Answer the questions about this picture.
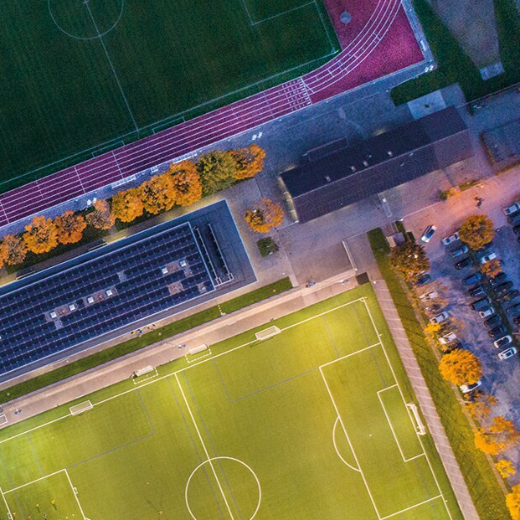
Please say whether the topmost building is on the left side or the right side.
right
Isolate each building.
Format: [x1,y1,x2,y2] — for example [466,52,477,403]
[386,233,407,248]
[0,199,281,384]
[278,105,475,221]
